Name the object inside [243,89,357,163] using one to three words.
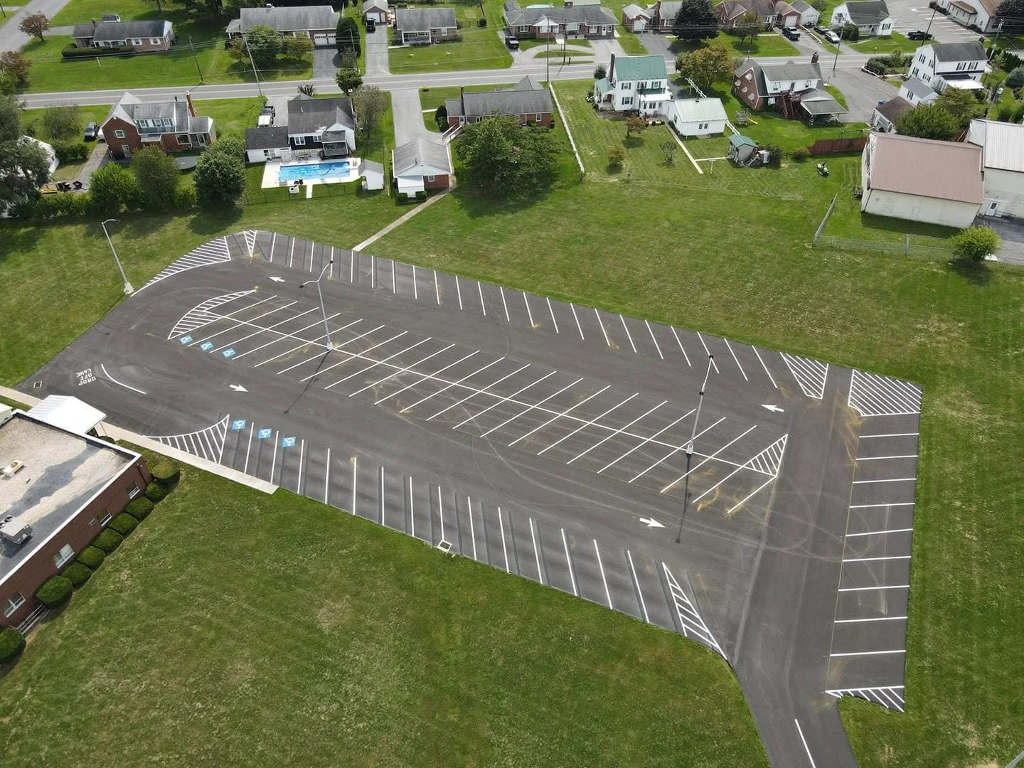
house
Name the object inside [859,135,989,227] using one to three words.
barn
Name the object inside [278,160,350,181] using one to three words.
swimming pool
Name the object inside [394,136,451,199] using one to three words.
building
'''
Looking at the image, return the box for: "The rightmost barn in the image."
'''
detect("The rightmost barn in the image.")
[968,127,1024,225]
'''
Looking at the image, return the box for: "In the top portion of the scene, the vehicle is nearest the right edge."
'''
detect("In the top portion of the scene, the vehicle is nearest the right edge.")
[906,27,936,39]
